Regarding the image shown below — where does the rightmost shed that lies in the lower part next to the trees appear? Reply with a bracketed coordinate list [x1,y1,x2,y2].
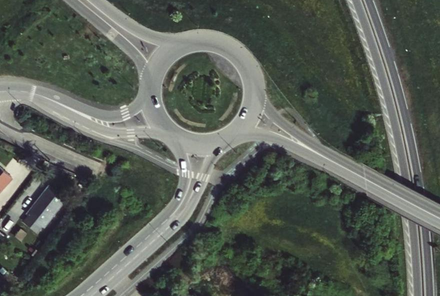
[23,190,63,233]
